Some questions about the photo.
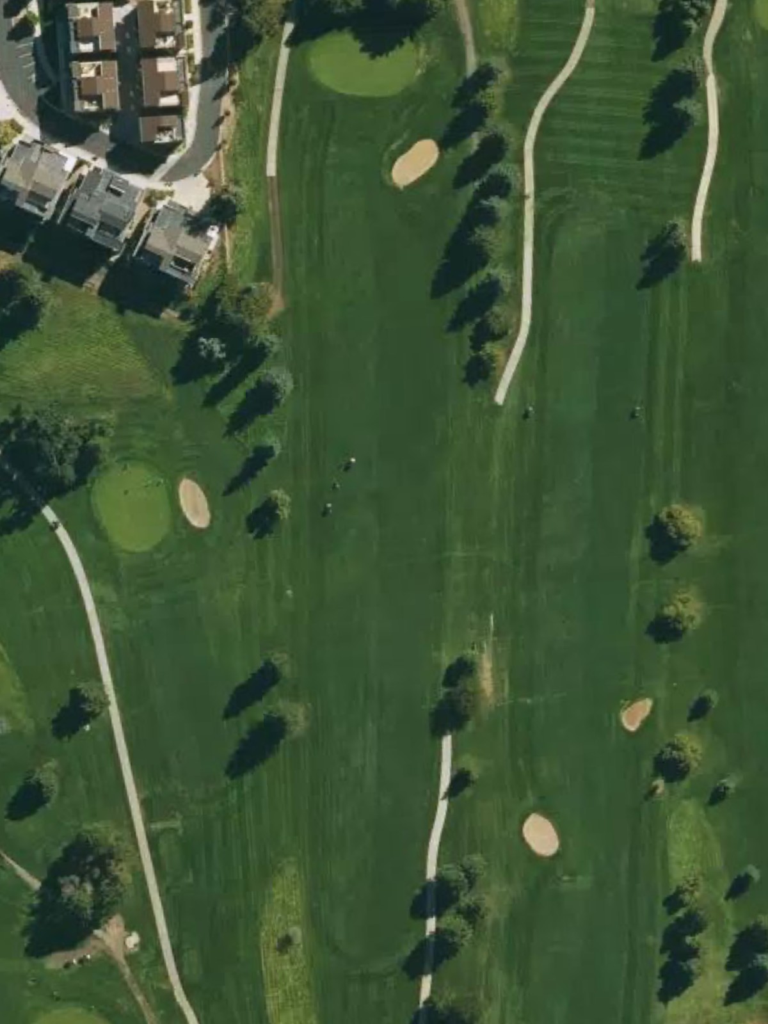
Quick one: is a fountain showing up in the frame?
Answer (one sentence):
No, I find no fountain anywhere in the image.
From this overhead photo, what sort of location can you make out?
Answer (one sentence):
The picture captures a golf course.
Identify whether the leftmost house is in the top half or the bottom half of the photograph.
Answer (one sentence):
The leftmost house is in the top half of the image.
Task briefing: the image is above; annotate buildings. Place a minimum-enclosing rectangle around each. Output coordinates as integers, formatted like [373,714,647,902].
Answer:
[62,0,114,56]
[0,138,63,225]
[66,57,118,114]
[140,201,215,288]
[65,165,140,252]
[137,54,185,110]
[135,112,181,146]
[133,0,180,49]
